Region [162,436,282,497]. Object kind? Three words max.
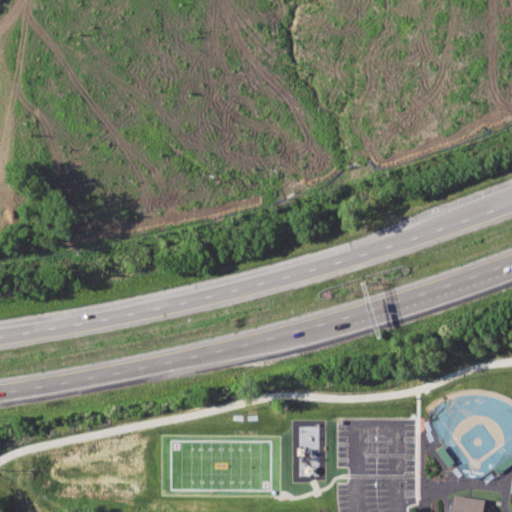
sports field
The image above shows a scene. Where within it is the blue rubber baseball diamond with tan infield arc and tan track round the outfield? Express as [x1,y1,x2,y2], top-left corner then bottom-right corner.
[426,390,512,479]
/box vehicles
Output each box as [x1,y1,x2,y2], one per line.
[342,421,352,426]
[502,266,512,274]
[81,314,94,320]
[294,332,304,338]
[336,324,348,330]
